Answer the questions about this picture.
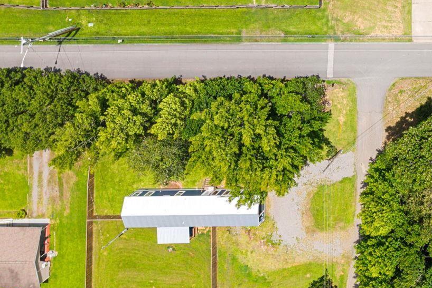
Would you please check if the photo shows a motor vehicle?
No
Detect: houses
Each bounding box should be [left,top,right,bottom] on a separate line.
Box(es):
[0,227,44,288]
[124,187,270,228]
